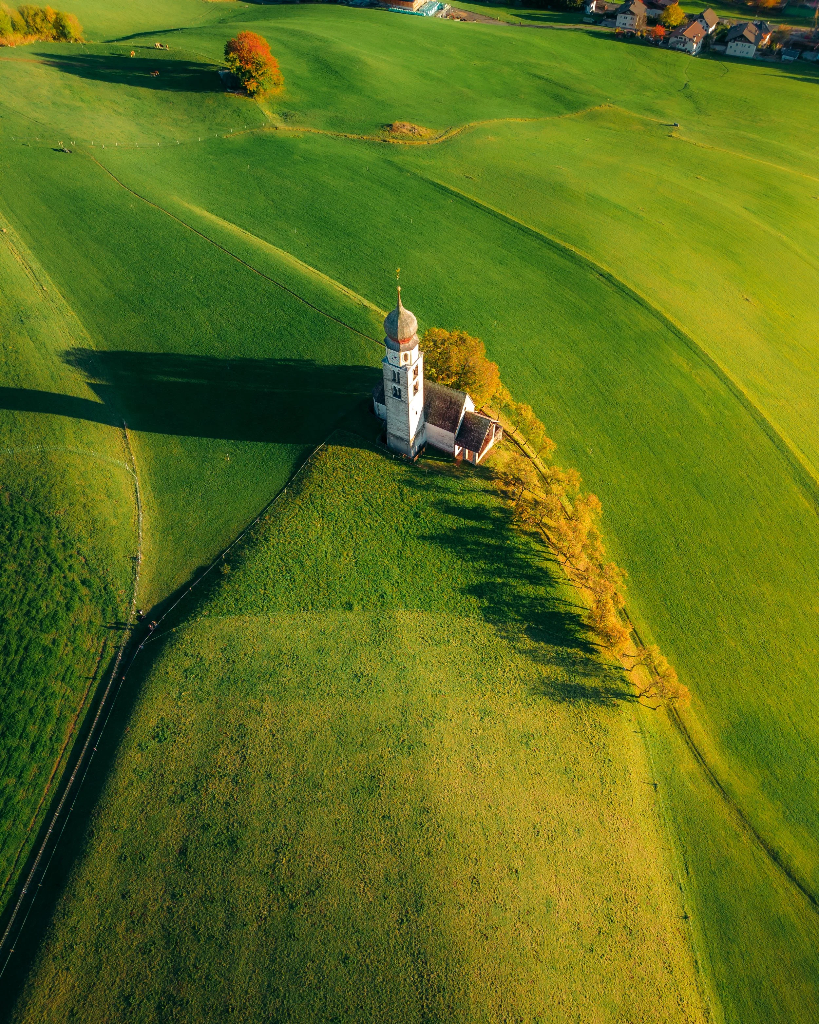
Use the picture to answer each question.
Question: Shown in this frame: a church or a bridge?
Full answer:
It is a church that can be seen here.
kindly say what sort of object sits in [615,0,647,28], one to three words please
house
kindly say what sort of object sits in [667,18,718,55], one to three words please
house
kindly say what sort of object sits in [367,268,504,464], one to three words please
church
